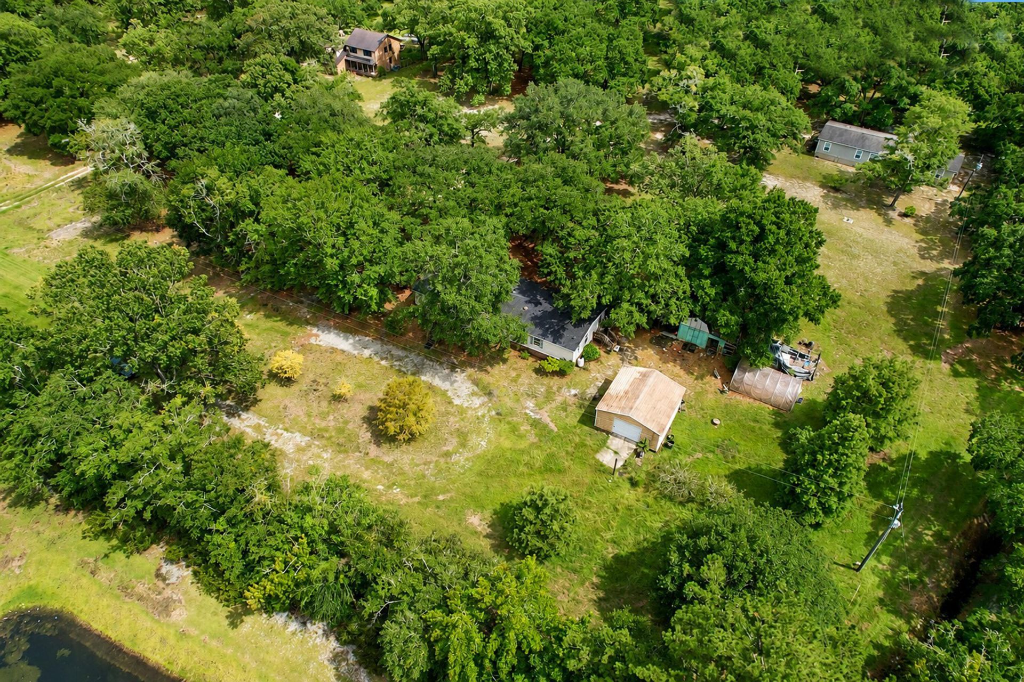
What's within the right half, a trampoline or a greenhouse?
greenhouse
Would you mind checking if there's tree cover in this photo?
Yes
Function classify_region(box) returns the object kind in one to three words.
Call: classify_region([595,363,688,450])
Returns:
building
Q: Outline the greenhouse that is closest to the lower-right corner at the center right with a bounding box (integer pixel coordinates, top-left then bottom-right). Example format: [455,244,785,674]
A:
[730,360,802,412]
